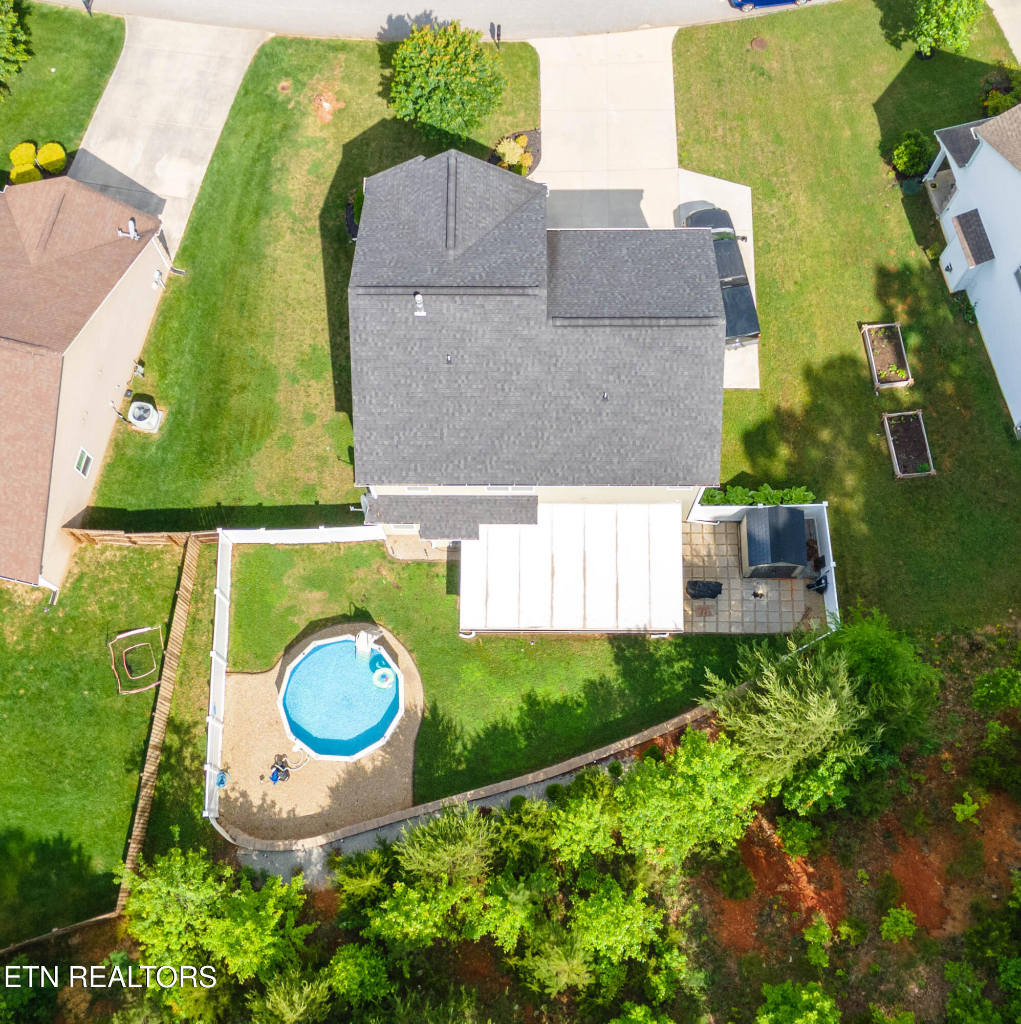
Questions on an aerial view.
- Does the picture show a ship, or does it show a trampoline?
trampoline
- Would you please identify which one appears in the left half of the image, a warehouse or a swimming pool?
swimming pool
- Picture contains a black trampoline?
No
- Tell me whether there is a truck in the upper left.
No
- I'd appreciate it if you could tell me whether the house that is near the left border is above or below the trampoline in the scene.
above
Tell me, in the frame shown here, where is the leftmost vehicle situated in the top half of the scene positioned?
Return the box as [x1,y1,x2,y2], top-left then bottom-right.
[683,205,767,352]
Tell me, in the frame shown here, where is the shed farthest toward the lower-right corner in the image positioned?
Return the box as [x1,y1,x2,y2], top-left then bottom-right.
[737,505,807,577]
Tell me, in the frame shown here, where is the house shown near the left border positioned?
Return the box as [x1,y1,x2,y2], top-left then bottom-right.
[0,176,175,598]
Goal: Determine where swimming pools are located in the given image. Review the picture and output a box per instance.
[276,635,408,768]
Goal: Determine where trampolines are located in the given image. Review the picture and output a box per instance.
[109,624,165,694]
